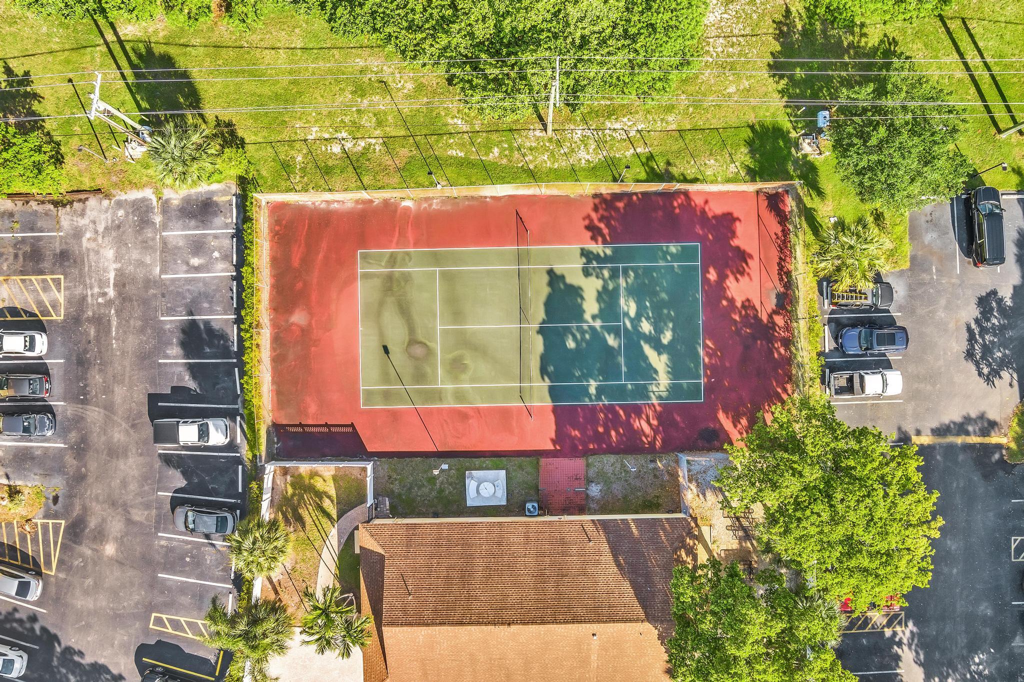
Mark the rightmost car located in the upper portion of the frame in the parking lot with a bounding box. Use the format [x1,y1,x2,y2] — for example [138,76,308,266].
[963,190,1008,268]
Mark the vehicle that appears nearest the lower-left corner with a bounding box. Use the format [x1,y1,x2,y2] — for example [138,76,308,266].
[0,643,33,678]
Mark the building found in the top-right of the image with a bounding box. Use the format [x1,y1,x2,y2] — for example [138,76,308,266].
[797,132,819,154]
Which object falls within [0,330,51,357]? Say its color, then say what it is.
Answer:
white car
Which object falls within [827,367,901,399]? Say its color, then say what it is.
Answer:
white truck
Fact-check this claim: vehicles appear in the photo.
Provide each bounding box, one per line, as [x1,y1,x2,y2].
[0,560,48,601]
[963,190,1008,268]
[0,330,51,357]
[0,409,56,441]
[142,668,206,682]
[827,367,901,399]
[0,371,53,403]
[822,279,892,311]
[835,323,909,356]
[175,503,241,536]
[0,643,33,678]
[151,416,232,449]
